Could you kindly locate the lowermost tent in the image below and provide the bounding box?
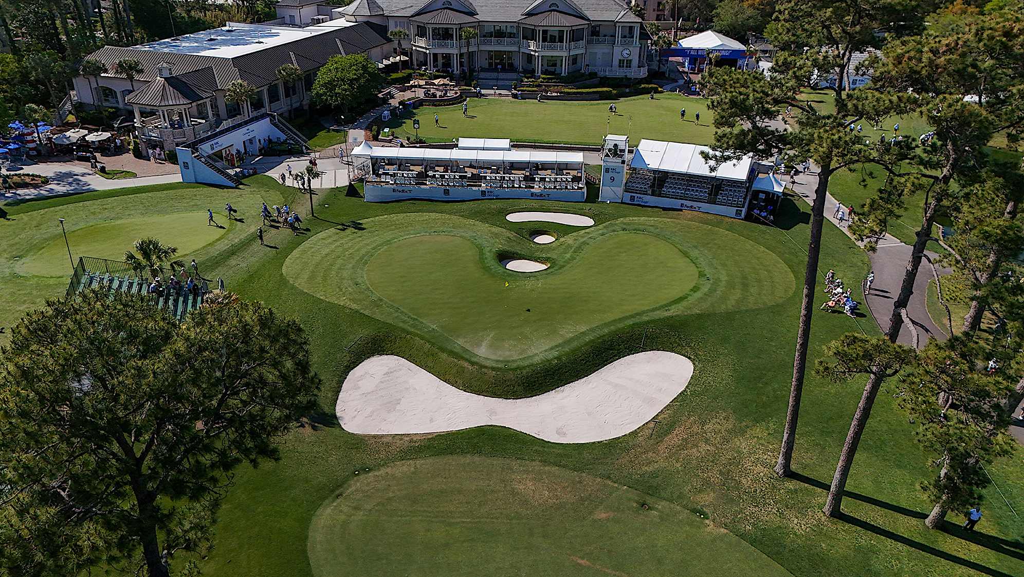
[748,175,787,222]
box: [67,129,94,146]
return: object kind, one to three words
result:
umbrella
